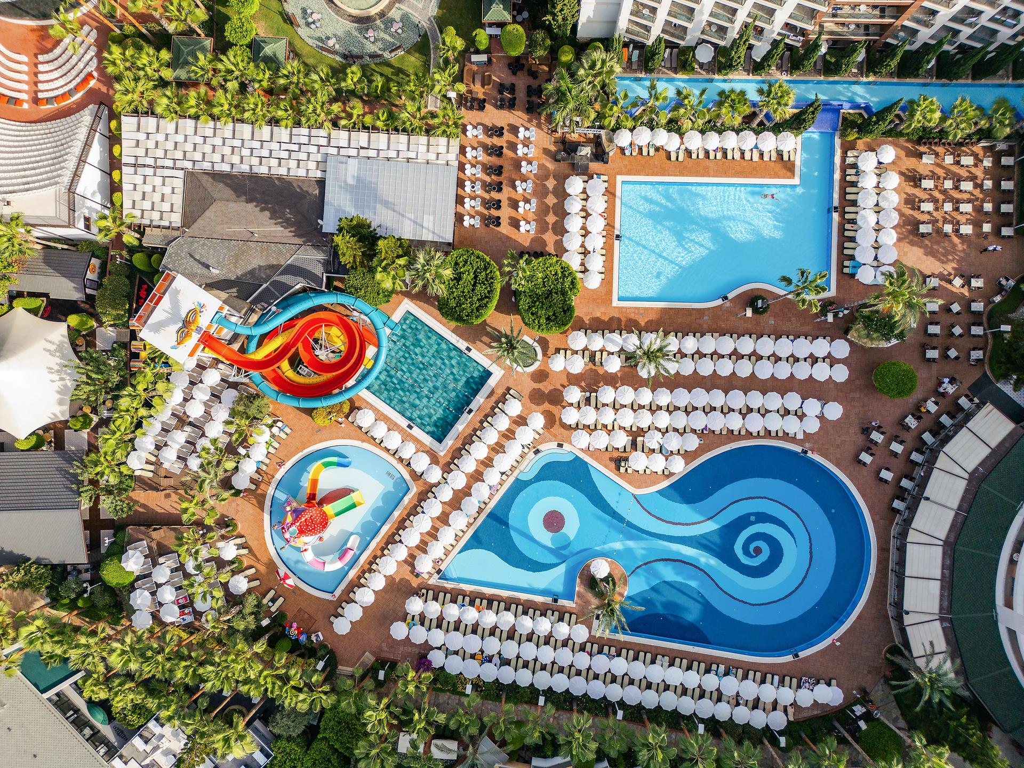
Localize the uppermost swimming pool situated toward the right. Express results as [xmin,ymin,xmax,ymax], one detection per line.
[614,76,1024,134]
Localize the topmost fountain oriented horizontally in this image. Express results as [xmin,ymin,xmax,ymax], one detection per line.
[318,0,401,34]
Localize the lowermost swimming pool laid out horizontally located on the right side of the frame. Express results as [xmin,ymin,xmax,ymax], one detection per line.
[428,439,877,663]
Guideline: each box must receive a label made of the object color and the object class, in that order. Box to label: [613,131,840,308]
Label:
blue swimming pool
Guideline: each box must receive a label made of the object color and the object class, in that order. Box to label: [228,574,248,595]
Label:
white umbrella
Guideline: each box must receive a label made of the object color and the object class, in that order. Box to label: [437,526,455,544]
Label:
white umbrella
